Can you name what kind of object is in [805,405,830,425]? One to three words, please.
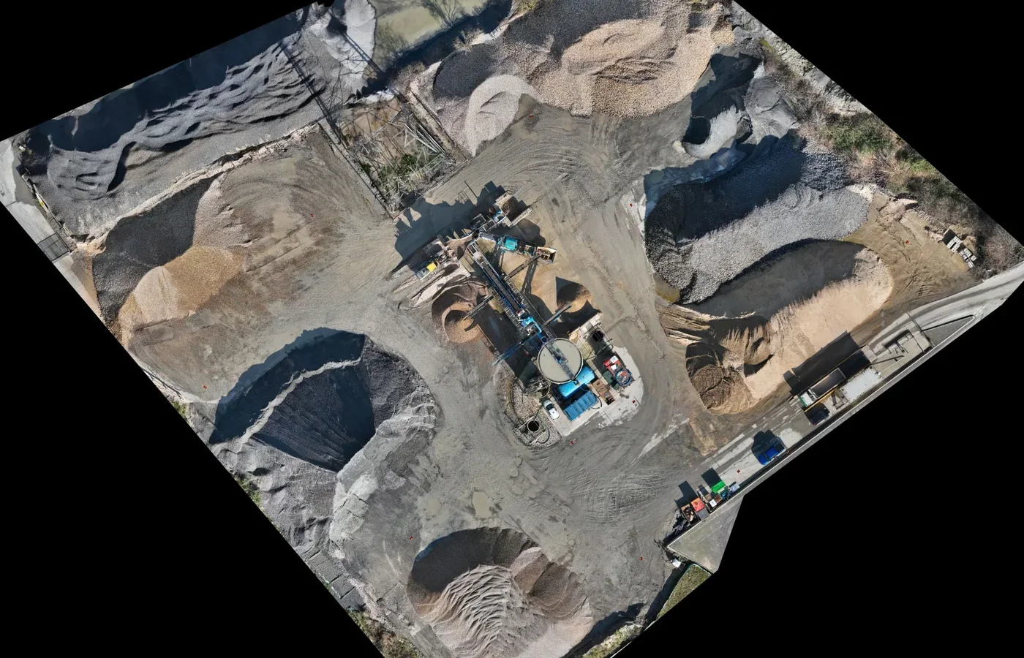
car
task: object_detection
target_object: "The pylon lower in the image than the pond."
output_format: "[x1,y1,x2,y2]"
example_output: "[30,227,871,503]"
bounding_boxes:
[348,93,453,206]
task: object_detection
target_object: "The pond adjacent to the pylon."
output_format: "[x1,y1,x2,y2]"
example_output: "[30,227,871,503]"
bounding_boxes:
[371,0,505,80]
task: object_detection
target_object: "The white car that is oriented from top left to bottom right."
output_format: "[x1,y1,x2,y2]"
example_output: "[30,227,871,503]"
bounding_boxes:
[542,399,561,421]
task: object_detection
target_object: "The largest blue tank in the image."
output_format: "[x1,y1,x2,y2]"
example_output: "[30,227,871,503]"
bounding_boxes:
[557,368,596,404]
